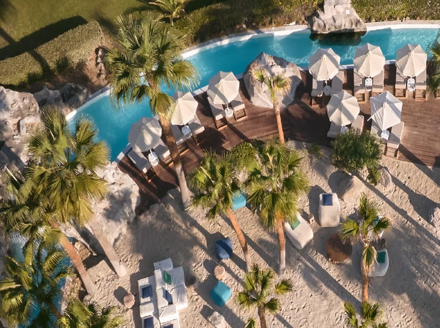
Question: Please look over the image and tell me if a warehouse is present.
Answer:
No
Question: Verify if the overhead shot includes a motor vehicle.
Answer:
No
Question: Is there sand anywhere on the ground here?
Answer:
Yes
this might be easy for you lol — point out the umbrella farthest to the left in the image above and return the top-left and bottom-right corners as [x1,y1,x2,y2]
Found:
[130,116,164,156]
